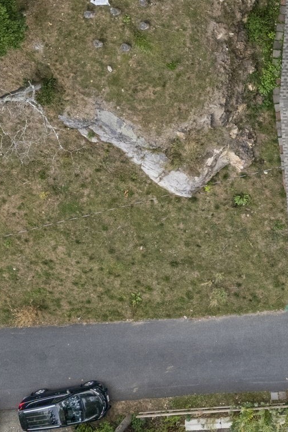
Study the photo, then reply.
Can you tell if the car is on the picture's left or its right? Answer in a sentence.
The car sits on the left side.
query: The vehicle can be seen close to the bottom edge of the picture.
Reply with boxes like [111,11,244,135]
[16,380,111,432]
